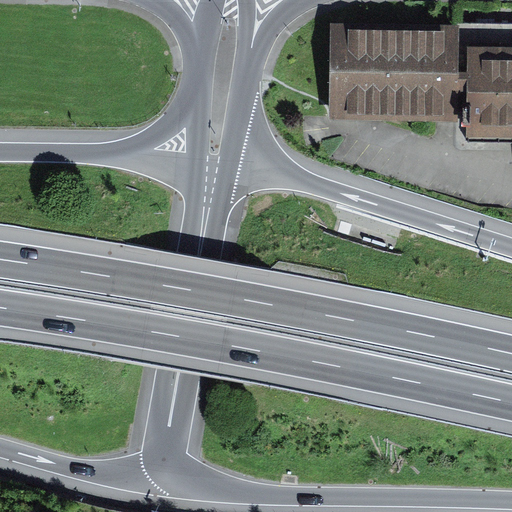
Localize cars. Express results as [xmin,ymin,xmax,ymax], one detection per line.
[44,320,74,333]
[71,464,95,476]
[232,352,258,364]
[299,495,323,506]
[20,248,38,260]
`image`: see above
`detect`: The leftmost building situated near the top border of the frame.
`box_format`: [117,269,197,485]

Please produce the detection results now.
[330,22,467,121]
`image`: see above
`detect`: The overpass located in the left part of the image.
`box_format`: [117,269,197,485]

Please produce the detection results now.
[143,250,238,378]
